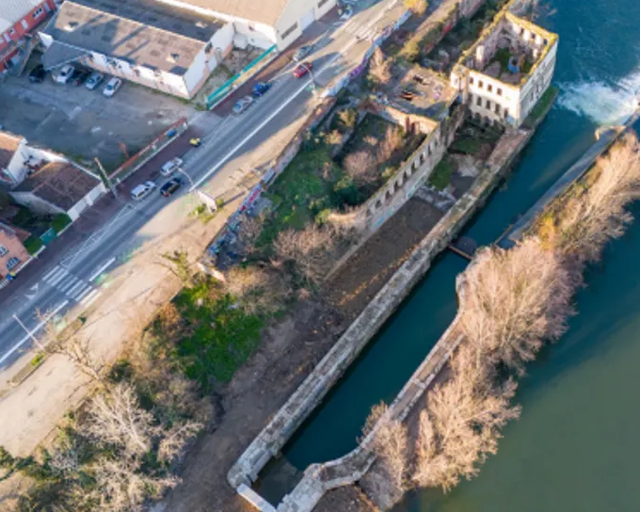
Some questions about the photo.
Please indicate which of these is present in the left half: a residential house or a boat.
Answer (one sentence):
Visible in the left half is a residential house.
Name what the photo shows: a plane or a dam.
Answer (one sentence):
There is a dam in the scene.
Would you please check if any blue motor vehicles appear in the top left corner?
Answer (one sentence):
Yes, you'll find a blue motor vehicle in the top left corner.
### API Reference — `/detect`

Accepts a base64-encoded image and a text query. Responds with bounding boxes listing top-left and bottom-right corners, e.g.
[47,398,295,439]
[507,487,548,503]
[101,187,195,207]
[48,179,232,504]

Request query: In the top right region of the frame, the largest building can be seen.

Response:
[448,12,559,129]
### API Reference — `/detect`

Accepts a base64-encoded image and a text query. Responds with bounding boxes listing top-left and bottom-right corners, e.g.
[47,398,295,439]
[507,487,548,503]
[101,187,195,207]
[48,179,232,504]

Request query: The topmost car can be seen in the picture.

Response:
[341,9,359,23]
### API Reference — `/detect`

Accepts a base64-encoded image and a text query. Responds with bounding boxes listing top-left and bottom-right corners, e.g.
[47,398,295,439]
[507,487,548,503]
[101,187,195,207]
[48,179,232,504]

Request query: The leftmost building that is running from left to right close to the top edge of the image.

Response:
[39,0,221,96]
